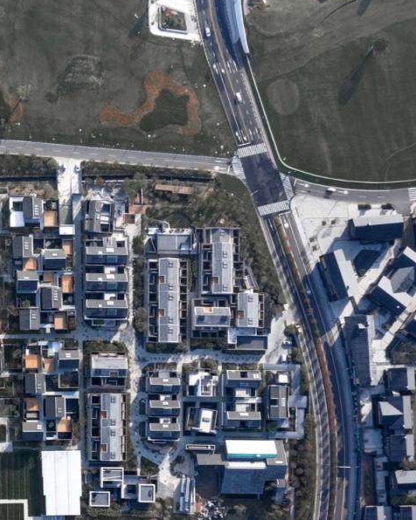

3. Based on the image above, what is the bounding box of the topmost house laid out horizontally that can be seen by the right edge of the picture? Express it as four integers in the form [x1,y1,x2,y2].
[348,215,404,242]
